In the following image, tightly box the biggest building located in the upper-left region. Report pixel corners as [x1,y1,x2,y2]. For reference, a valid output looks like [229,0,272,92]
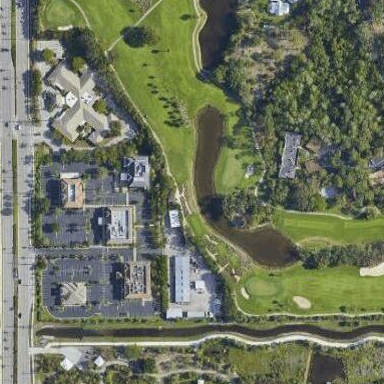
[47,61,110,135]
